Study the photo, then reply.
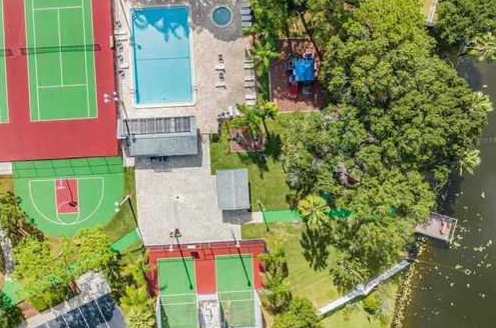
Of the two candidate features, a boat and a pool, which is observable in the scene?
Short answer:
pool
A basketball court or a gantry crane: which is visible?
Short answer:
basketball court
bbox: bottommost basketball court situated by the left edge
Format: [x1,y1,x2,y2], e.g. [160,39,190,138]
[12,158,124,239]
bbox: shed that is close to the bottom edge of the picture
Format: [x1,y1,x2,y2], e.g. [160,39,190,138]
[201,299,220,328]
